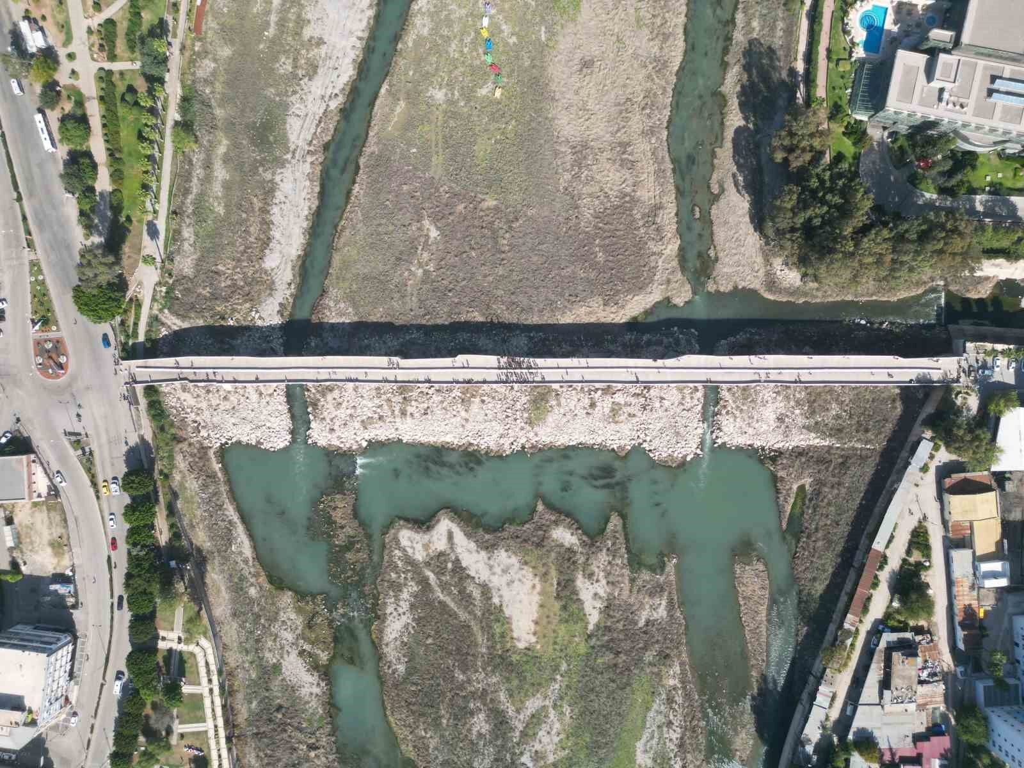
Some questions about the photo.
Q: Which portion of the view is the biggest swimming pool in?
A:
top right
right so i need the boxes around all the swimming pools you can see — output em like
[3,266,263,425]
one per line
[857,3,890,56]
[924,14,937,27]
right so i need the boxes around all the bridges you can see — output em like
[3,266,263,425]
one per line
[122,355,960,385]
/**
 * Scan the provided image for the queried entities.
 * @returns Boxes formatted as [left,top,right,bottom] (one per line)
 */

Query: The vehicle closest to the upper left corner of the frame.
[7,77,23,96]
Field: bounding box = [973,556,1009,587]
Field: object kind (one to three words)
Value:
house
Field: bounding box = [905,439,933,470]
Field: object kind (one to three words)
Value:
shed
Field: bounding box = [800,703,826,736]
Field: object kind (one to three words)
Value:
shed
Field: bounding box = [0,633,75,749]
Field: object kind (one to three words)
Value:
building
